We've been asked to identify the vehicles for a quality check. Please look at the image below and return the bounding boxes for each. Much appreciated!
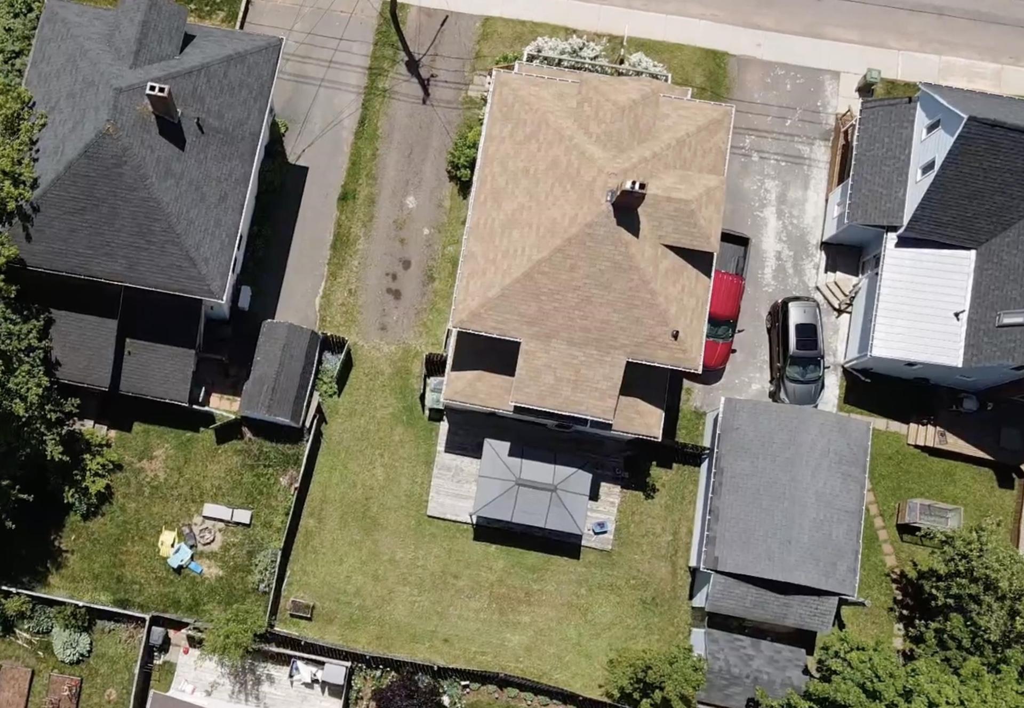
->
[683,230,752,384]
[769,298,829,407]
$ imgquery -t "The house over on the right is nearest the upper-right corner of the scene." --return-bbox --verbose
[825,80,1024,386]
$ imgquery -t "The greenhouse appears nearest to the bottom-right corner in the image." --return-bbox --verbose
[892,499,968,542]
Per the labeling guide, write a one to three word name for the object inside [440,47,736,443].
house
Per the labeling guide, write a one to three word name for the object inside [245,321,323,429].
shed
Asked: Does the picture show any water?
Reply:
No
